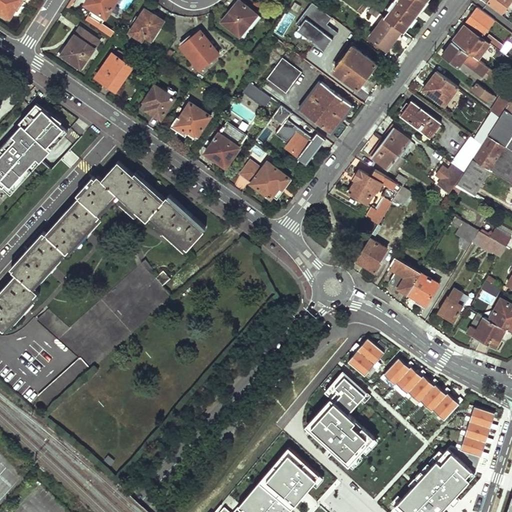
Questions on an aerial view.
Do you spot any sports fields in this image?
Yes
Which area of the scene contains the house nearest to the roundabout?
right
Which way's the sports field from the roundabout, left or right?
left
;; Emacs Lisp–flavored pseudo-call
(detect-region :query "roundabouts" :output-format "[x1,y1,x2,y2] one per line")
[311,266,354,308]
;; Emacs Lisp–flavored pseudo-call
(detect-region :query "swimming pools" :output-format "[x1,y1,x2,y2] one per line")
[118,0,132,10]
[476,288,500,307]
[232,102,256,124]
[276,12,296,37]
[251,144,268,161]
[258,128,272,142]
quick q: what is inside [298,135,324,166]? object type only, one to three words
shed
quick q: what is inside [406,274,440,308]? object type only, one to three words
house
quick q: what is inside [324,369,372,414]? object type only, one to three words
building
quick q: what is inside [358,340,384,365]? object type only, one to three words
house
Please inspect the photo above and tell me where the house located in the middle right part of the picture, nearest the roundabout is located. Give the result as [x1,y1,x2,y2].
[355,238,390,275]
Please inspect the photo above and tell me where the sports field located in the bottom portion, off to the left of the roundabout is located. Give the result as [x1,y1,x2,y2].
[50,236,280,474]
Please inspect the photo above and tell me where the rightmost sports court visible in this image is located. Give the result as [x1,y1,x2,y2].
[38,256,169,368]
